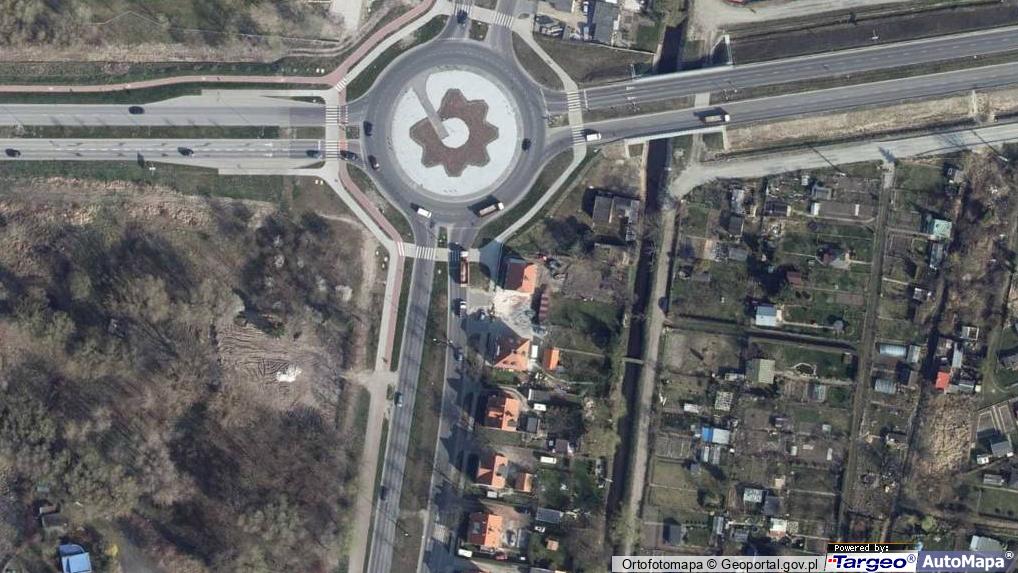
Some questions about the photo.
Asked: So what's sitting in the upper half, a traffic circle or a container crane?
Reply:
traffic circle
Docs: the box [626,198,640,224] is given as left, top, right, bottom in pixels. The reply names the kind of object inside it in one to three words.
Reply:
building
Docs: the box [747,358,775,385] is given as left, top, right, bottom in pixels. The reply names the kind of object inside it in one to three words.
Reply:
shed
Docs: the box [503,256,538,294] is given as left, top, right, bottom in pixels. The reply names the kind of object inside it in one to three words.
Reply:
house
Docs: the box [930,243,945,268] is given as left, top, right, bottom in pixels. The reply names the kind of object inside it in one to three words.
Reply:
greenhouse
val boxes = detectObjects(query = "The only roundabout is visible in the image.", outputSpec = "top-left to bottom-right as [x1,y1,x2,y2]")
[359,38,550,228]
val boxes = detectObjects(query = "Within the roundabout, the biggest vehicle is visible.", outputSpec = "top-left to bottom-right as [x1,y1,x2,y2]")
[475,201,505,217]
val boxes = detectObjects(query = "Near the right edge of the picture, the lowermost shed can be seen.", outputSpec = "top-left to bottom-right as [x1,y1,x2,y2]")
[971,535,1010,563]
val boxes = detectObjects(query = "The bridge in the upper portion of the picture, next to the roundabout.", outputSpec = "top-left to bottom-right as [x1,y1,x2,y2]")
[625,31,736,155]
